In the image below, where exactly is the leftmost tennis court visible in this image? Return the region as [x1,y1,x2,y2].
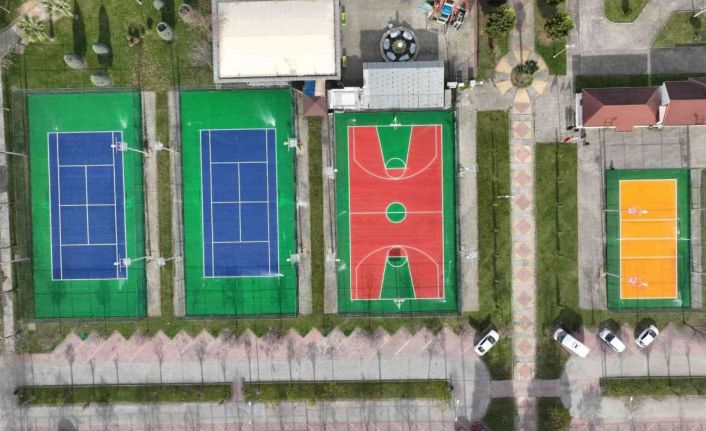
[27,92,148,319]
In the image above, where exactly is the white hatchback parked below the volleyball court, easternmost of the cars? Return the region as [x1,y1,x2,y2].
[634,323,659,348]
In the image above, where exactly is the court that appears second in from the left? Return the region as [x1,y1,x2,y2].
[179,90,299,317]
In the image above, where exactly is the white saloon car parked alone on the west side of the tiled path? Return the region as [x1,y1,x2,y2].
[472,330,499,357]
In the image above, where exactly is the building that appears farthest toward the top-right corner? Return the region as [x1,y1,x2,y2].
[654,76,706,130]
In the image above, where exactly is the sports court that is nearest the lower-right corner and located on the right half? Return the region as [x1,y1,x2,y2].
[607,168,694,309]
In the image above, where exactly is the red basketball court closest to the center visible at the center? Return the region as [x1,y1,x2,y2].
[334,111,459,314]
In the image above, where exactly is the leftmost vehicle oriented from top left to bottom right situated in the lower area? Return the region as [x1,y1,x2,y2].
[553,326,592,359]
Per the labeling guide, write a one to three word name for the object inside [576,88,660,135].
house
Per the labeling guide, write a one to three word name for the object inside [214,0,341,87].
building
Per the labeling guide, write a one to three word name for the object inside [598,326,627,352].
car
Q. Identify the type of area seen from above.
sports ground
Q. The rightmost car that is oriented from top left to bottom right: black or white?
white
